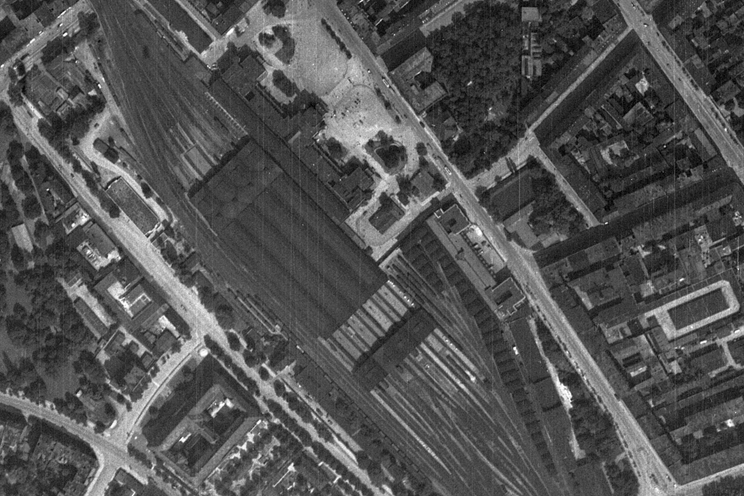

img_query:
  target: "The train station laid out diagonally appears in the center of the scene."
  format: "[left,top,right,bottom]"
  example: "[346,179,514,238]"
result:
[157,31,513,474]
